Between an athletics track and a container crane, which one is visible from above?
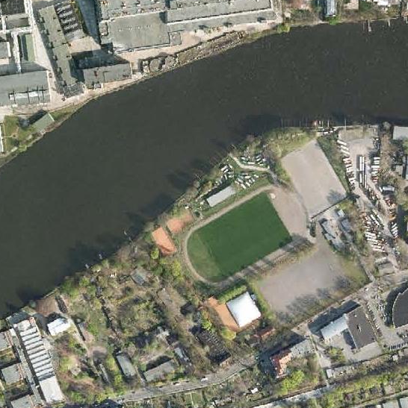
athletics track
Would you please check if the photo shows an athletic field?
Yes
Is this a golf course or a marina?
marina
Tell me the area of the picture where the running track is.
center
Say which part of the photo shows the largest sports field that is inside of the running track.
center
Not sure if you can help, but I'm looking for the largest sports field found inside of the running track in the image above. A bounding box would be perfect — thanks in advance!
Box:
[195,192,288,274]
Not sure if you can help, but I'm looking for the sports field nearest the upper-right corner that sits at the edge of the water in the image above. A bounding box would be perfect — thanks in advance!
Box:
[282,138,347,217]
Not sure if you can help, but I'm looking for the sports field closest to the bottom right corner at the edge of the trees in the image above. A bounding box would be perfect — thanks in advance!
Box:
[258,251,366,321]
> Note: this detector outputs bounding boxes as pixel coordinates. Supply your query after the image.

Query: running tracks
[180,183,303,282]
